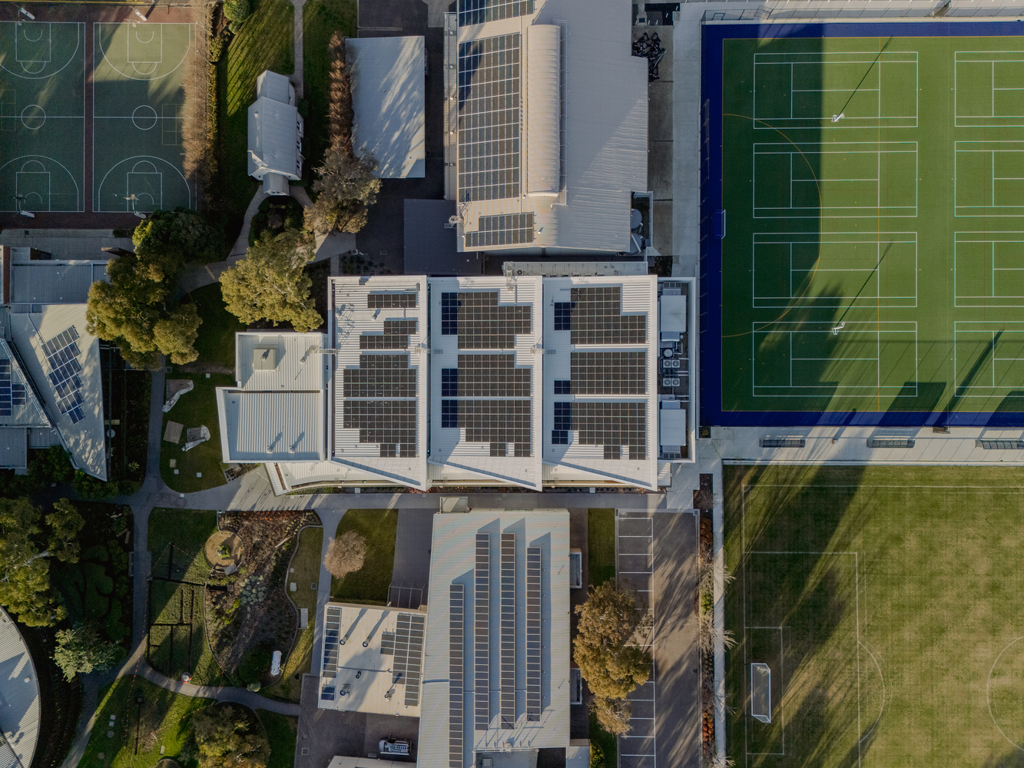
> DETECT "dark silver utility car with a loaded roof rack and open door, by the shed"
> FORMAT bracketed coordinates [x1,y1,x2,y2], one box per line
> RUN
[378,732,412,757]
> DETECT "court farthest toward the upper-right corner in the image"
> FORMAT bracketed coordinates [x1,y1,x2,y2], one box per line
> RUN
[951,52,1024,128]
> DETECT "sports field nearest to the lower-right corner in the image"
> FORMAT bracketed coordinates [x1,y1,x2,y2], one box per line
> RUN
[726,465,1024,768]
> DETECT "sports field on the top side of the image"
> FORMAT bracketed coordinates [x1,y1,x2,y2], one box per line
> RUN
[702,20,1024,426]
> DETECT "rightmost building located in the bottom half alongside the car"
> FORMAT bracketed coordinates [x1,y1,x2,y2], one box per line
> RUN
[415,494,590,768]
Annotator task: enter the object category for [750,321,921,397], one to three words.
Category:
tennis court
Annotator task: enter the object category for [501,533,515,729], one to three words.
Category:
solar array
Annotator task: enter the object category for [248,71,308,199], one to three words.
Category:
building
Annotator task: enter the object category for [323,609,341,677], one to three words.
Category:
solar array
